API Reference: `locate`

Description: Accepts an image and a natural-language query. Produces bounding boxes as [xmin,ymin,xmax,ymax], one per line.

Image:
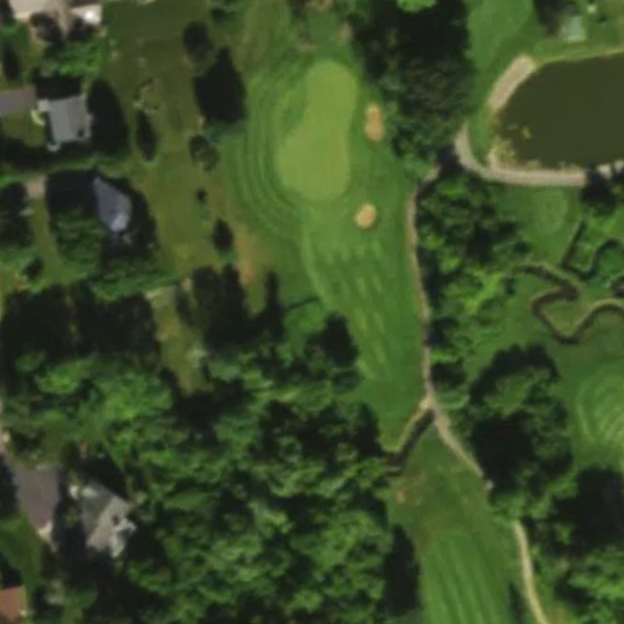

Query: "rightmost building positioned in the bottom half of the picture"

[73,483,143,557]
